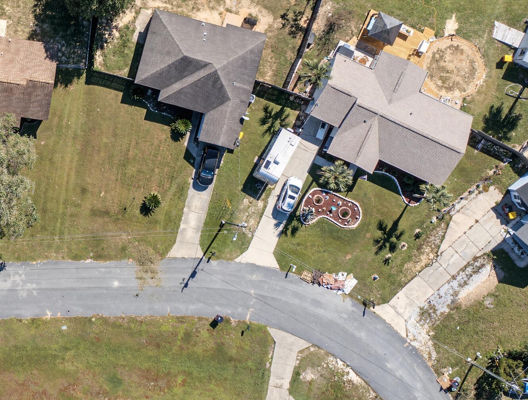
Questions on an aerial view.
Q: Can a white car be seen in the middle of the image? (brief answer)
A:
Yes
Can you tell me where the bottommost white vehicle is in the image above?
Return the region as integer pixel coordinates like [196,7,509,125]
[278,176,304,216]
